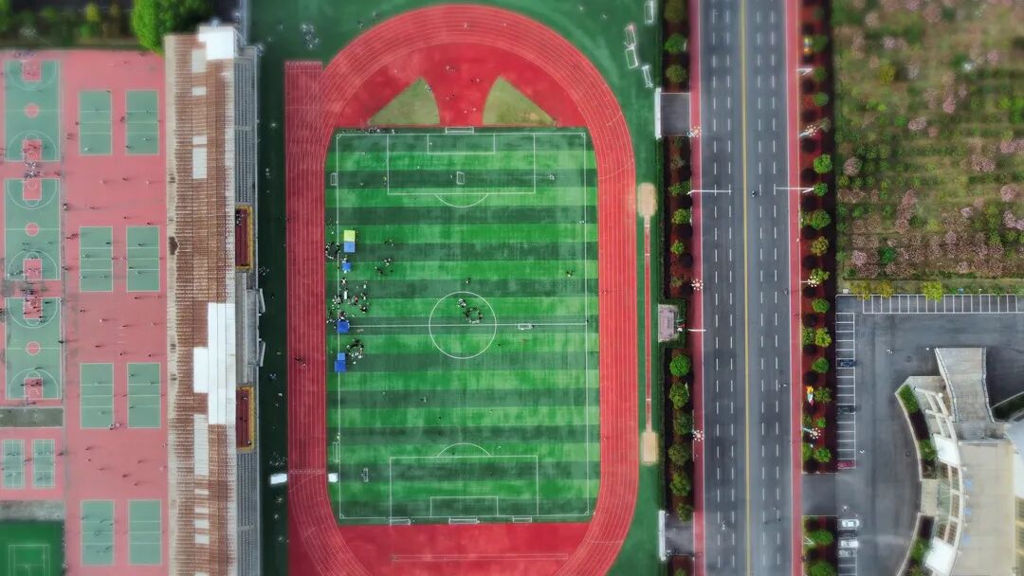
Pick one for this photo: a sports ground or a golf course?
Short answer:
sports ground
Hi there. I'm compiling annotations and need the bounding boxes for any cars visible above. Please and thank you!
[841,540,859,549]
[838,461,854,469]
[838,406,855,413]
[839,530,855,538]
[839,550,856,558]
[838,360,855,368]
[841,520,859,528]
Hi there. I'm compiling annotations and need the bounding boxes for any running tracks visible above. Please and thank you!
[285,5,639,576]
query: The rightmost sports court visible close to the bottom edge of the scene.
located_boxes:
[128,500,161,565]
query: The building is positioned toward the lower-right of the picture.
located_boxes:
[912,347,1024,576]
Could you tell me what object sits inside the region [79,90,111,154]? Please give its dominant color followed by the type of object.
green sports court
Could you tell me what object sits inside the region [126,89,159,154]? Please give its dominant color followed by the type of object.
green sports court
